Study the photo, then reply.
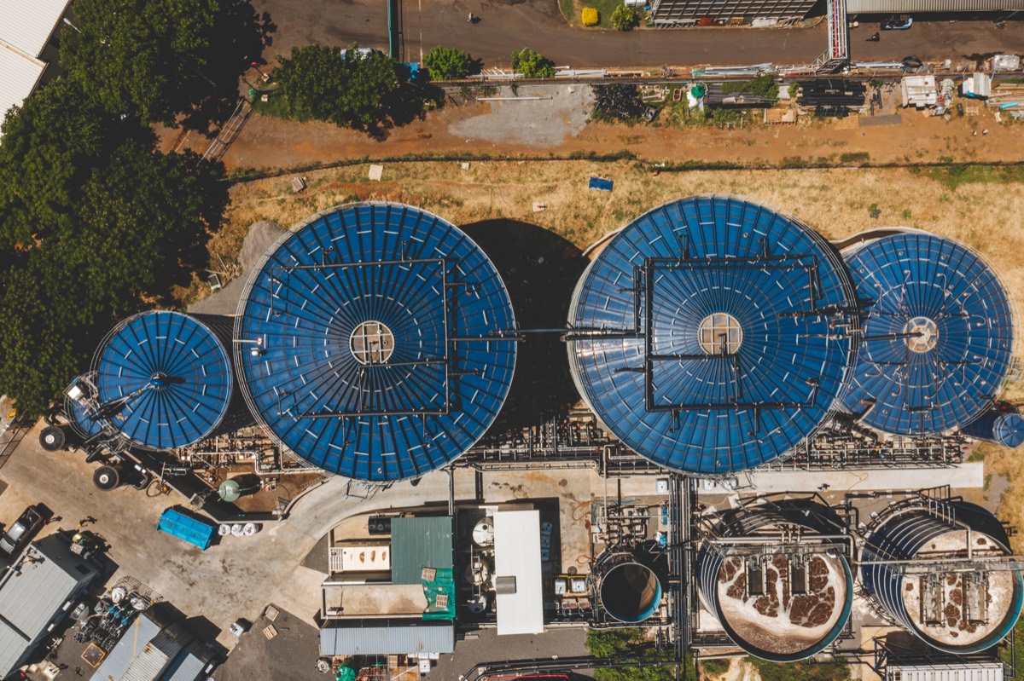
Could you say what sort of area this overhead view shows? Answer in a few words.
industrial area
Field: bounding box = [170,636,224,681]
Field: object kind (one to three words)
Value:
shed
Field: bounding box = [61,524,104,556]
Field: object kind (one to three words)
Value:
work vehicle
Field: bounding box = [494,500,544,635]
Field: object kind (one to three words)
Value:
shed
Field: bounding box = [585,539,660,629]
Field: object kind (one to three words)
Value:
storage tank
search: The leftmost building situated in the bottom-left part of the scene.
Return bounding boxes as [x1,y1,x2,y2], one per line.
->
[0,533,102,680]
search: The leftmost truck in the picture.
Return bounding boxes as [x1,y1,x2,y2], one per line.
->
[0,504,52,558]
